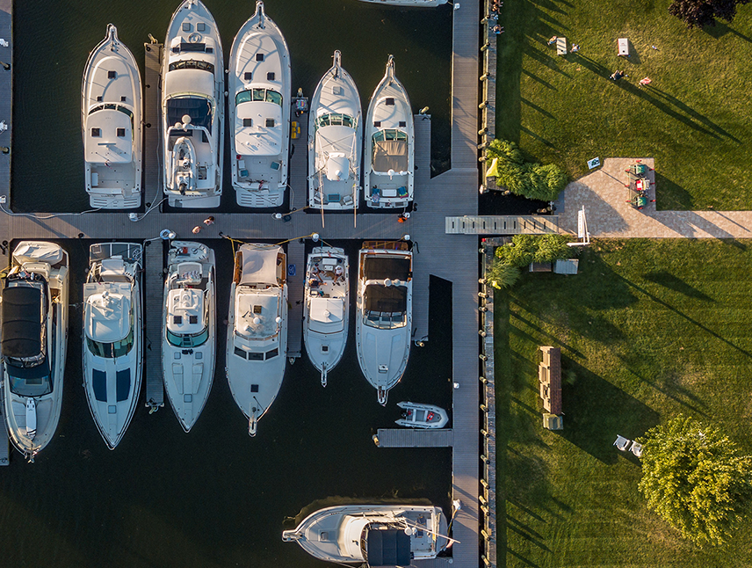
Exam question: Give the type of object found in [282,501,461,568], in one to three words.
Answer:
boat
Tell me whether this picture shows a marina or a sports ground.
marina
